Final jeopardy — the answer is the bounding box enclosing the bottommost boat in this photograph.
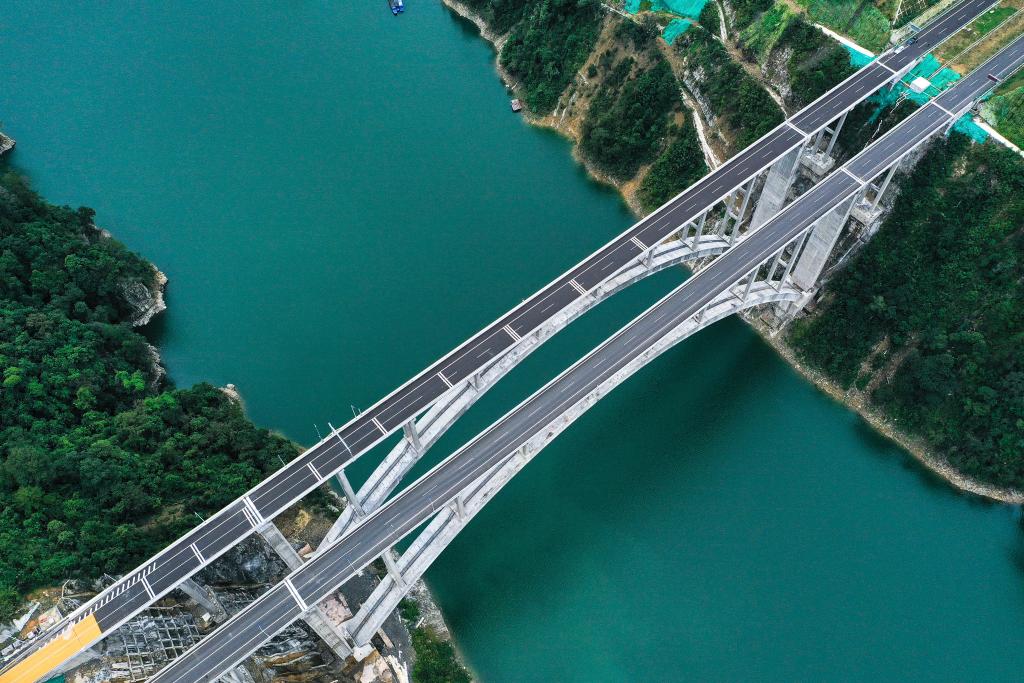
[506,97,520,110]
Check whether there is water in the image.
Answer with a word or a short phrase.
Yes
